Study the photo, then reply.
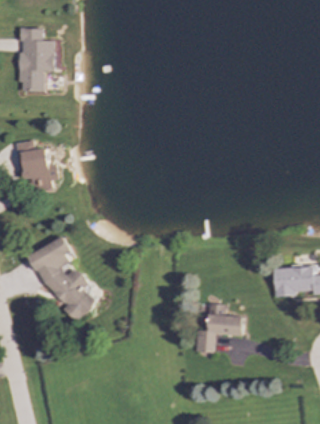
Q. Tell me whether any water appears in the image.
Yes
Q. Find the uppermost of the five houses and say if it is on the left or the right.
left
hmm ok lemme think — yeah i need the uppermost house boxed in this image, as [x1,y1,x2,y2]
[14,28,62,94]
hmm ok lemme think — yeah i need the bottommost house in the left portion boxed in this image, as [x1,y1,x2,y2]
[30,237,100,320]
